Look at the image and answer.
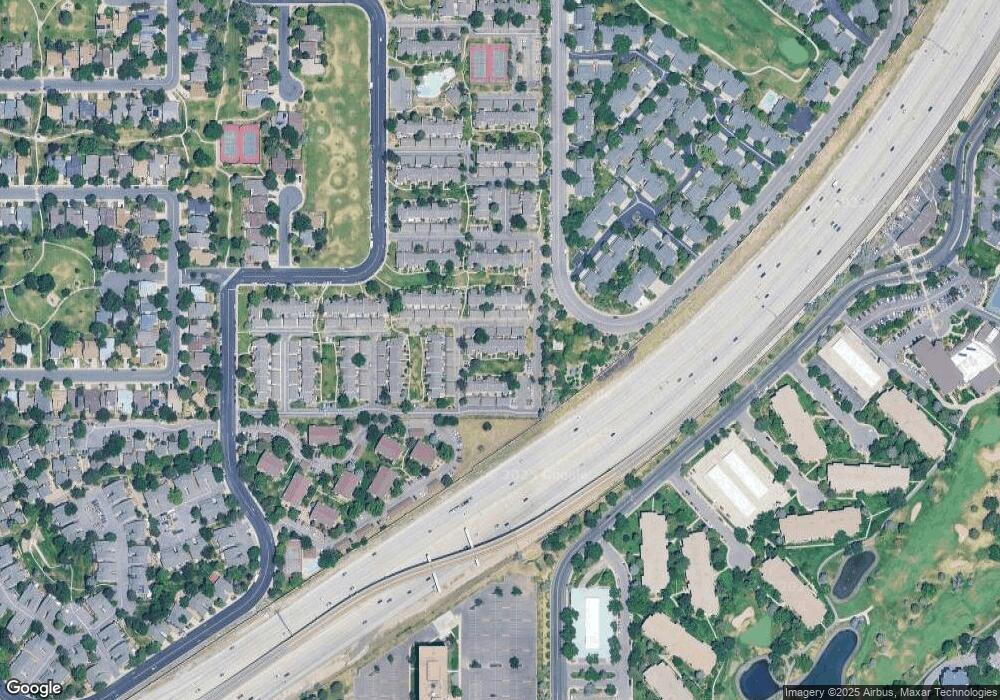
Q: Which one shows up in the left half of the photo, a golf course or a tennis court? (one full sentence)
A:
The one visible in the left half of the photo is a tennis court.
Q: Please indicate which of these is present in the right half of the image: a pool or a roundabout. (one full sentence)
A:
There is a pool in the right half of the image.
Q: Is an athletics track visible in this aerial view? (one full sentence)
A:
No, there appears to be no athletics track in this shot.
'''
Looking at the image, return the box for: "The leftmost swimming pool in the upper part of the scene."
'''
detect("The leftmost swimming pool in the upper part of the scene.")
[415,67,456,100]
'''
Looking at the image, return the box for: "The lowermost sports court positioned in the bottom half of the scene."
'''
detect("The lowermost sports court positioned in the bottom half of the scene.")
[285,541,302,578]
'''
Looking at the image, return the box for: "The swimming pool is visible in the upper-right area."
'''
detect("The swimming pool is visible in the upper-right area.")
[758,90,779,111]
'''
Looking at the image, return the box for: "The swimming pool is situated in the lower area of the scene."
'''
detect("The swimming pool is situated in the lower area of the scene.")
[303,558,320,577]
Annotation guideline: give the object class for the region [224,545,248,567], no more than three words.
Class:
house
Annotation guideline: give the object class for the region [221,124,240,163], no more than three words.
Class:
tennis court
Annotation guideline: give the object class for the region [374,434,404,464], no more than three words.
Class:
building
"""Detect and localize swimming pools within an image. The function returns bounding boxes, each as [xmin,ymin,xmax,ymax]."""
[415,67,456,100]
[303,558,320,577]
[758,90,779,111]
